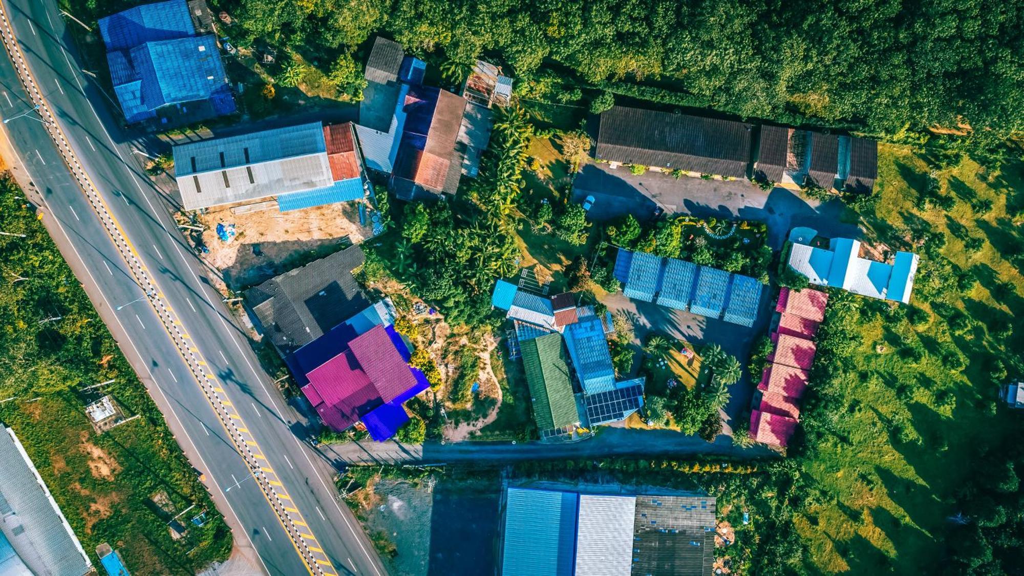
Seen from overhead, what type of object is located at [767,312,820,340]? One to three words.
house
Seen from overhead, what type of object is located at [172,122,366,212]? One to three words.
building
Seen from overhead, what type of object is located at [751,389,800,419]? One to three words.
house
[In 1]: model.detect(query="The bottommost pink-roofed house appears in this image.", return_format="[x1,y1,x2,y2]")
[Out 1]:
[741,410,798,447]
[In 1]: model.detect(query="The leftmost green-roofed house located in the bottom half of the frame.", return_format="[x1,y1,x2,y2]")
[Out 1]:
[517,333,579,431]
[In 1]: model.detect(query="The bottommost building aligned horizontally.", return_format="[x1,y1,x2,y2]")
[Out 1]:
[502,484,716,576]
